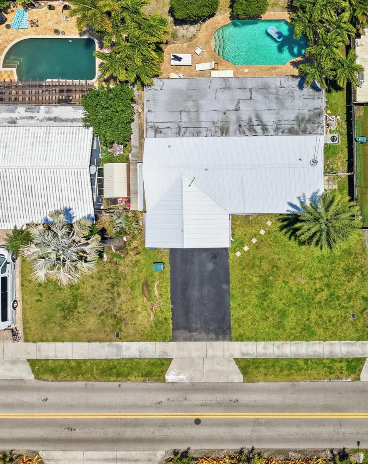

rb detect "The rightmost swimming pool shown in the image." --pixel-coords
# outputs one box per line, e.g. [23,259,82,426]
[208,16,309,67]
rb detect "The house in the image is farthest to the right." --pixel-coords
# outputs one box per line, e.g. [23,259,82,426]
[136,76,325,248]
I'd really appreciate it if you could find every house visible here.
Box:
[0,82,104,229]
[136,76,325,248]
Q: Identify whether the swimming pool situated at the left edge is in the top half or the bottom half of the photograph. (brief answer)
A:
top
